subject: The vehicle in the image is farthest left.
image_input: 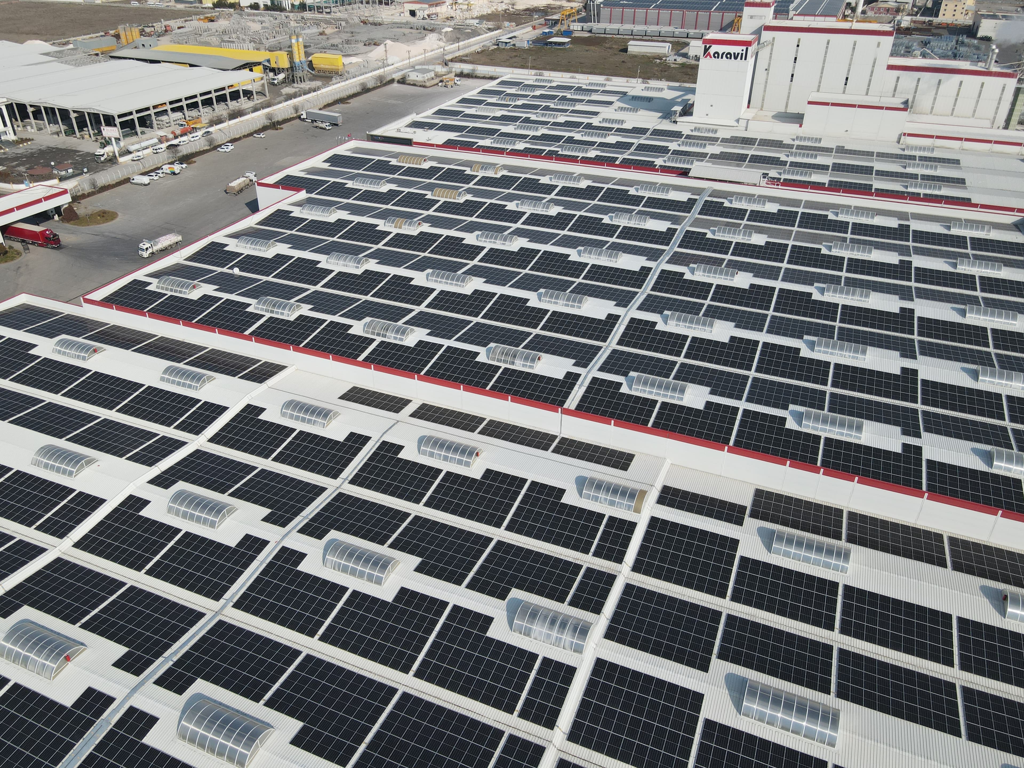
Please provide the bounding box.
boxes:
[0,221,61,248]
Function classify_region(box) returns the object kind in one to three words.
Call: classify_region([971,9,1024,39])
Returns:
building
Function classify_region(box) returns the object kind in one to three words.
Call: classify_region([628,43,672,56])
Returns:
shed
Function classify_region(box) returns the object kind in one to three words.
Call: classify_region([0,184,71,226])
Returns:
building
